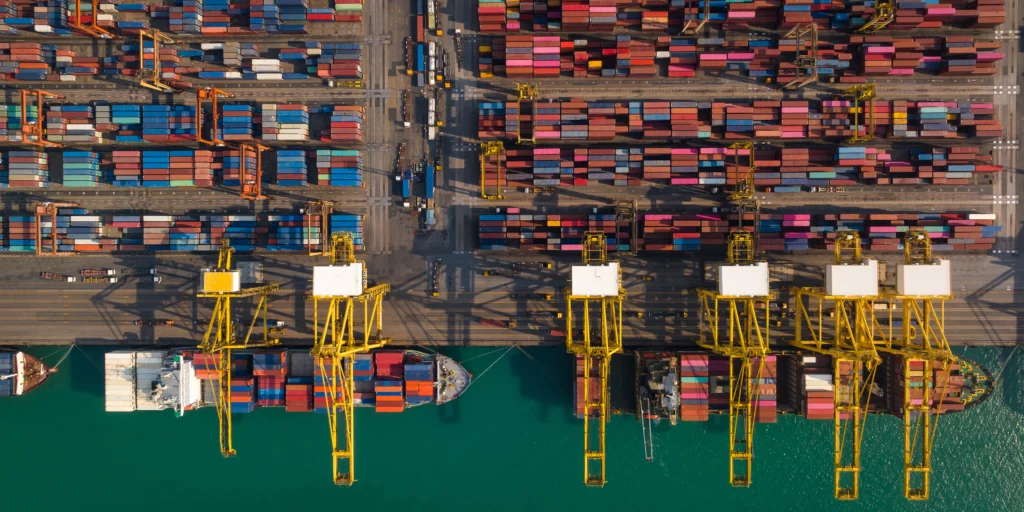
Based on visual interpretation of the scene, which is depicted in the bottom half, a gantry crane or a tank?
gantry crane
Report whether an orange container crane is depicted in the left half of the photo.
Yes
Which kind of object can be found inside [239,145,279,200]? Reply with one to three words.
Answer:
container crane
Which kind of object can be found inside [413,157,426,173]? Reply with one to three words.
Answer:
vehicle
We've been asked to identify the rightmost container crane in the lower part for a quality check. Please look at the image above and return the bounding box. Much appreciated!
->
[851,233,958,501]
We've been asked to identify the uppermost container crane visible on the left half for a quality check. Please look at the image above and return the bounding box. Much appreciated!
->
[77,0,122,40]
